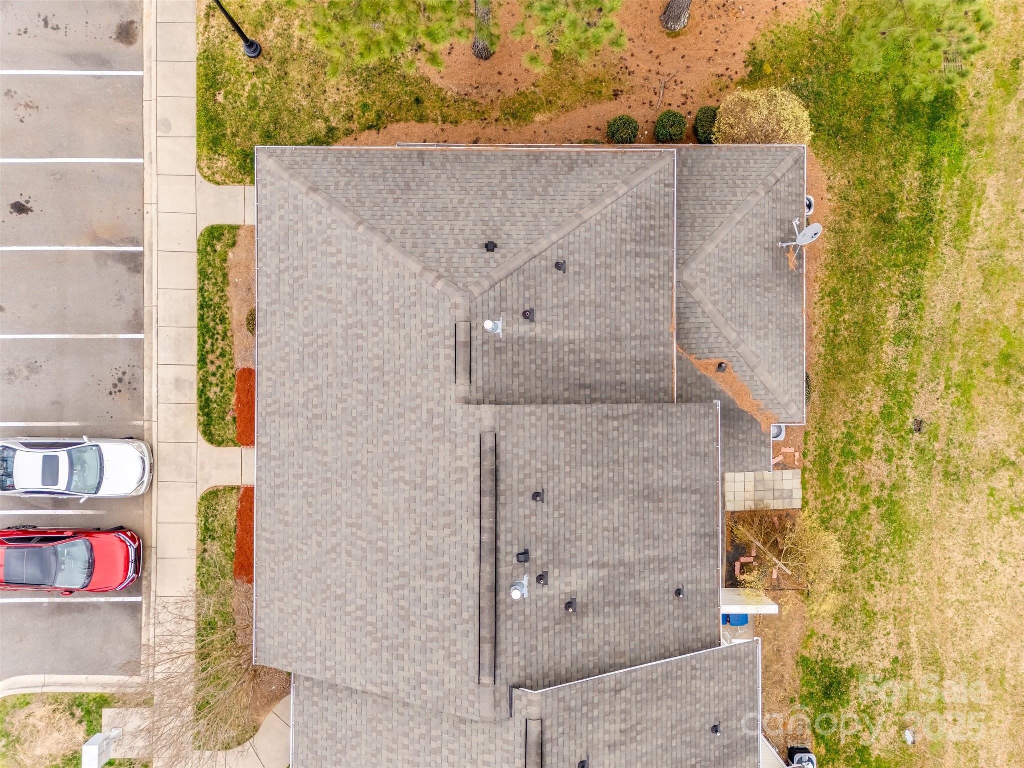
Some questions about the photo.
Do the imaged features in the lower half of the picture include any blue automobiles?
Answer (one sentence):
No, looking in the lower half of the picture, there is no blue automobile.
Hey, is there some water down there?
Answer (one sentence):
No, the scene doesn't show any water.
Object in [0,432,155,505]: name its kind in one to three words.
car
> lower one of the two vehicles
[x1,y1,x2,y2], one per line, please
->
[0,524,143,600]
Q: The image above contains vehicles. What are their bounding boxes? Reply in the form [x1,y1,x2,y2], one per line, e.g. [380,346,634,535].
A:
[0,524,143,600]
[0,432,155,505]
